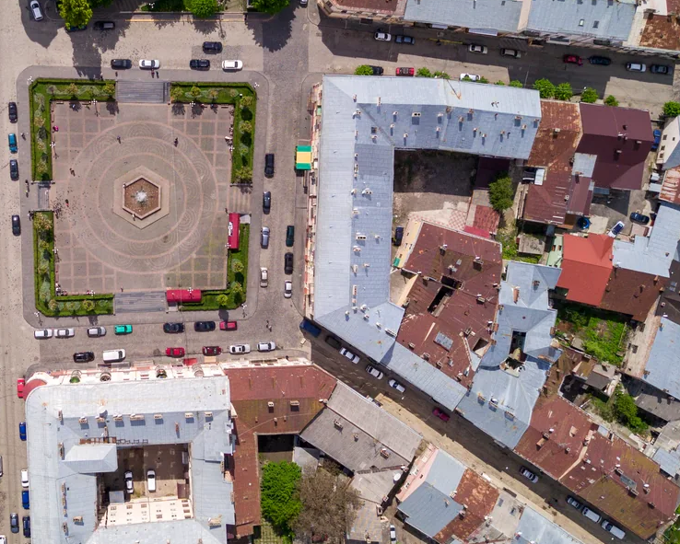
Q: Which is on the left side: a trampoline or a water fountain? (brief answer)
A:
water fountain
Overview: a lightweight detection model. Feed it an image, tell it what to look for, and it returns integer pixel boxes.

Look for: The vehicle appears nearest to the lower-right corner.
[600,519,624,539]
